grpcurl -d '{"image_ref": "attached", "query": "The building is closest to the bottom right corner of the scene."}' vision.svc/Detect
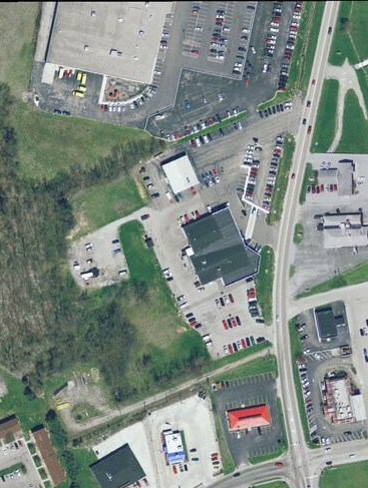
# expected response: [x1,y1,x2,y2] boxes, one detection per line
[324,376,366,424]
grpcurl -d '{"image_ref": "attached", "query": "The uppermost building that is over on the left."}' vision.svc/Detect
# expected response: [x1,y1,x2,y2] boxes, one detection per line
[47,0,172,84]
